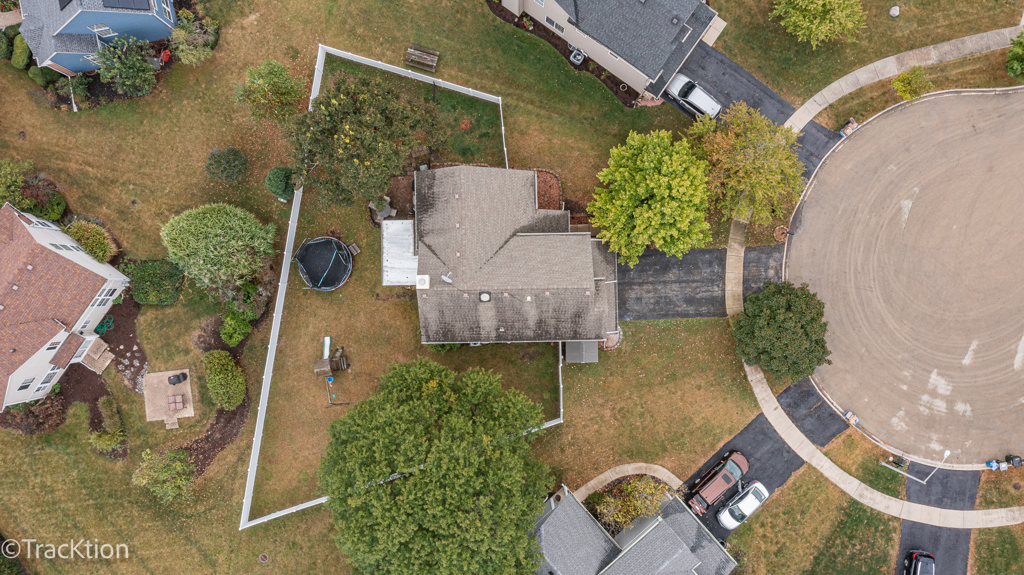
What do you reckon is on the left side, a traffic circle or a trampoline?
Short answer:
trampoline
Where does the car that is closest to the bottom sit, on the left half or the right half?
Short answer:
right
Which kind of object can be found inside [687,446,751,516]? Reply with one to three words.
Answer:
car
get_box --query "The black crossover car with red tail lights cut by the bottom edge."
[904,553,935,575]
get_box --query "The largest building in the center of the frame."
[413,165,620,348]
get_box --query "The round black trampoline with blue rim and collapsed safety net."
[291,236,355,293]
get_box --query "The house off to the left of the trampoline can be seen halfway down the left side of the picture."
[0,201,130,413]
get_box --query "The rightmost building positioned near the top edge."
[500,0,719,107]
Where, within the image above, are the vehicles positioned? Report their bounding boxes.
[687,446,751,516]
[717,481,771,531]
[669,73,725,120]
[904,553,935,575]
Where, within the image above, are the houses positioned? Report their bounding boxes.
[413,165,620,348]
[500,0,719,107]
[526,486,739,575]
[16,0,176,78]
[0,201,130,413]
